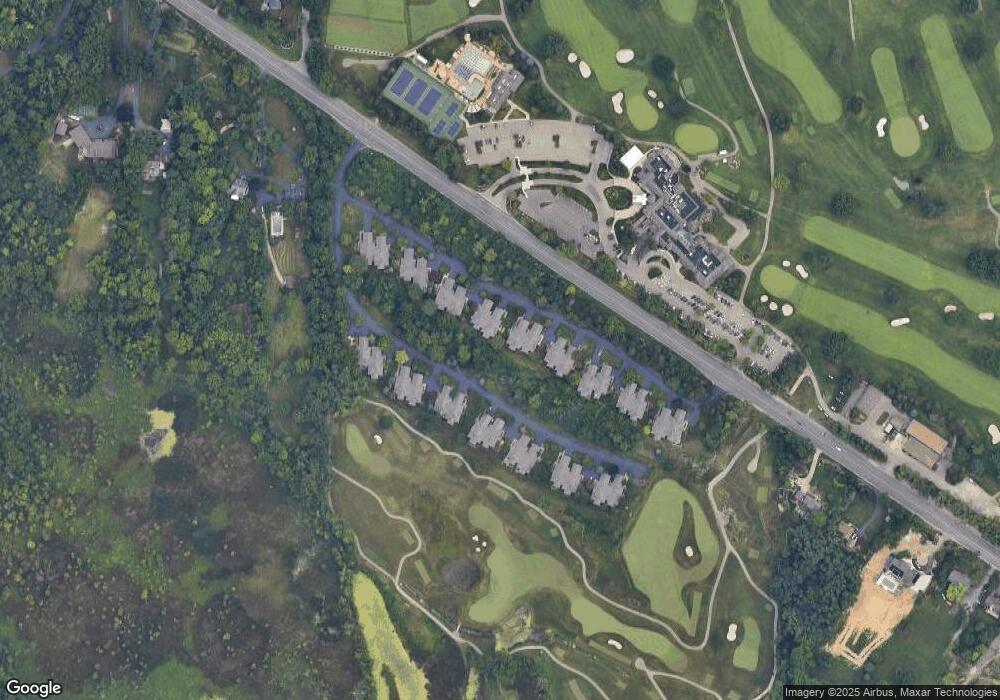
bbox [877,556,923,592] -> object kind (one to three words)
house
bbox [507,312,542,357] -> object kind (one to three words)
building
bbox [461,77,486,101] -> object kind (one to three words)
swimming pool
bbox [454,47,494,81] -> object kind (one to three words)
swimming pool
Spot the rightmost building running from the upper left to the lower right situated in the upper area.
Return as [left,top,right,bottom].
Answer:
[635,151,738,289]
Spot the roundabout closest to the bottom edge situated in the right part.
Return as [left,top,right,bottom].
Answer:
[641,249,682,290]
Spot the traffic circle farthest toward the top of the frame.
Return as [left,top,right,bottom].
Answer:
[599,177,645,219]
